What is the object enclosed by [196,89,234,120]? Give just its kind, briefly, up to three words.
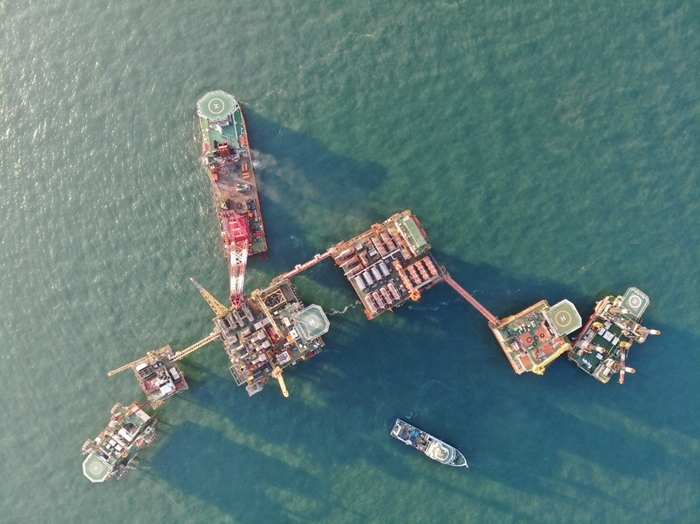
helipad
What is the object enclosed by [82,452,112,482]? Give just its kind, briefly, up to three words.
helipad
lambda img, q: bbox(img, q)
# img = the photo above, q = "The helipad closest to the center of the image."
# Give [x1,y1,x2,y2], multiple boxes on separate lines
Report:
[295,304,329,341]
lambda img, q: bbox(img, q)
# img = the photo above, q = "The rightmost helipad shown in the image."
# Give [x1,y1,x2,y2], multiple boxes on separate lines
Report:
[620,288,650,320]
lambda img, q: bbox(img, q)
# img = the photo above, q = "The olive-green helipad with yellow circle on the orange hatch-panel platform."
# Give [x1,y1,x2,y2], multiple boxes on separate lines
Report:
[542,299,582,337]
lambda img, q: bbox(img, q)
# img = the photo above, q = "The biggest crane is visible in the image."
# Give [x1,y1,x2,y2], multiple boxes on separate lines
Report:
[225,211,252,308]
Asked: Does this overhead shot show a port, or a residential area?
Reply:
port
